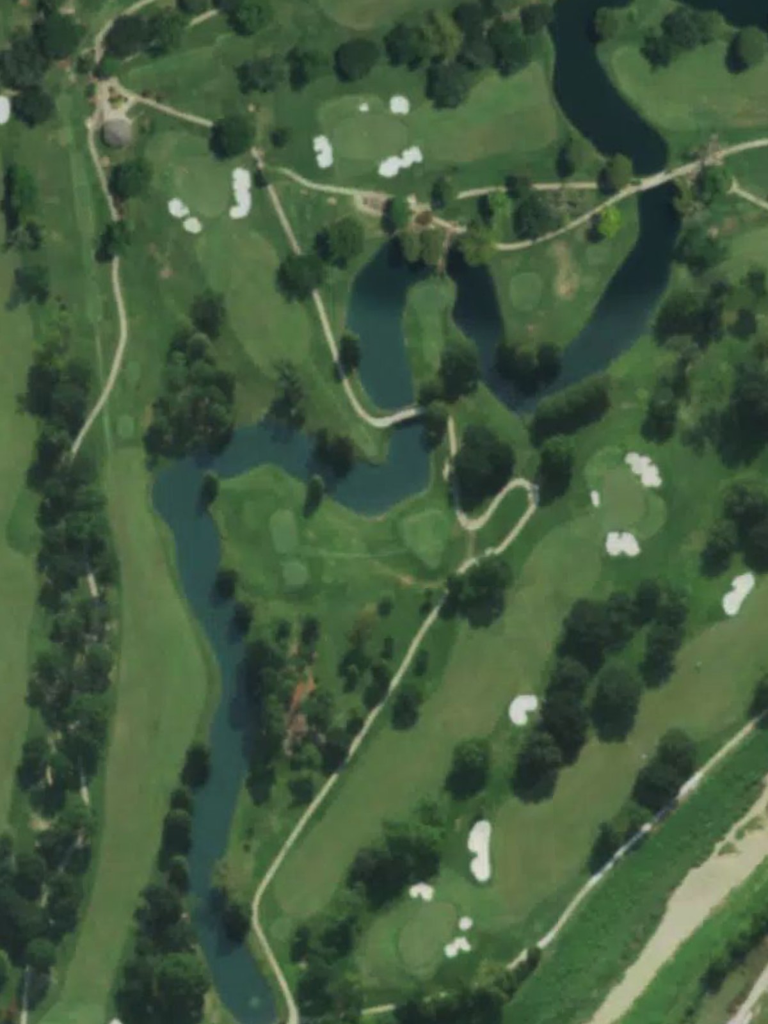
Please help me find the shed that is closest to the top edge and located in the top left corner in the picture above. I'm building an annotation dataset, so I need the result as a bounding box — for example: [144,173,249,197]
[102,116,132,147]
